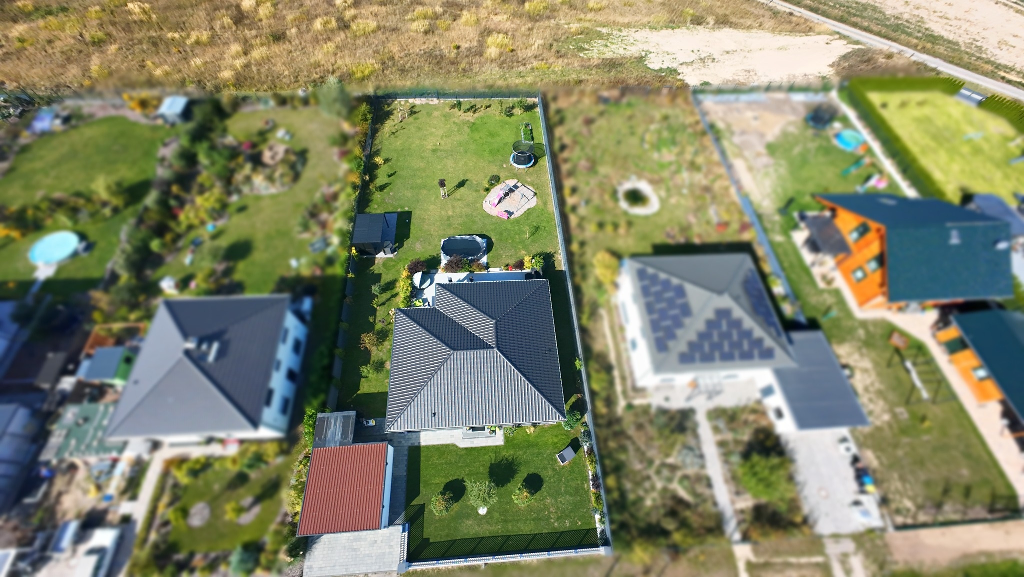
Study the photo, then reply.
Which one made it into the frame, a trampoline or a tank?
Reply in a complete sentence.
Visible in the photo is a trampoline.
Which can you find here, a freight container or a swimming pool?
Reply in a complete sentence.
There is a swimming pool in the scene.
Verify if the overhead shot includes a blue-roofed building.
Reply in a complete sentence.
Yes, a blue-roofed building appears in the view.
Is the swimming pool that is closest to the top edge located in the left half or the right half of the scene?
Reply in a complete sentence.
The swimming pool that is closest to the top edge appears in the right half of the scene.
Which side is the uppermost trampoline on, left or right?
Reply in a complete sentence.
The uppermost trampoline appears in the right half of the scene.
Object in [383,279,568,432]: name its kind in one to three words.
house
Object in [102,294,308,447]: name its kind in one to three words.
house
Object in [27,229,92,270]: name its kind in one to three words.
swimming pool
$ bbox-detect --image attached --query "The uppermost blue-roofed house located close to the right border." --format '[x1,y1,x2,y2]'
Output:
[812,196,1015,309]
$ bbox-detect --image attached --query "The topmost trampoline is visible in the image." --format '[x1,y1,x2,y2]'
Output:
[806,101,842,130]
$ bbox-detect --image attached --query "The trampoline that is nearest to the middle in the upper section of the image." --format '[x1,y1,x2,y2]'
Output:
[508,140,536,173]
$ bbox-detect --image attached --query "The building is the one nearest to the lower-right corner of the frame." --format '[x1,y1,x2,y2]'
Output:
[936,301,1024,429]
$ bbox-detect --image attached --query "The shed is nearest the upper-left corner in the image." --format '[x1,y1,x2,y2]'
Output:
[156,95,191,128]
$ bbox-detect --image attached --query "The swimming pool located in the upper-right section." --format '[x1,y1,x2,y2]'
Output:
[835,130,867,153]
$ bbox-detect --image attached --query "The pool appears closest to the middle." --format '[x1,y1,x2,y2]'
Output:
[441,234,486,263]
